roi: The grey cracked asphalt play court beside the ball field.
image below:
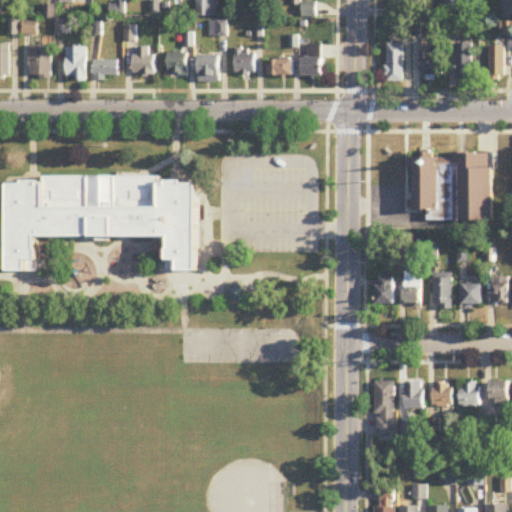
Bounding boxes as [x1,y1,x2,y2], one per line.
[184,328,300,363]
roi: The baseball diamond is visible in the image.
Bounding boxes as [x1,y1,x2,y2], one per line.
[0,332,322,512]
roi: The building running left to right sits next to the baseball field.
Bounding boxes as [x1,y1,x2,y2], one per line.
[2,174,202,272]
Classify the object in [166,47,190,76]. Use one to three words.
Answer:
house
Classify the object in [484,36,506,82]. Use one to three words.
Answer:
house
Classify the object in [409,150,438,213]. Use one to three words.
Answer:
building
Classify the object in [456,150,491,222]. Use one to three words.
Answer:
building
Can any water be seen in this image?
No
